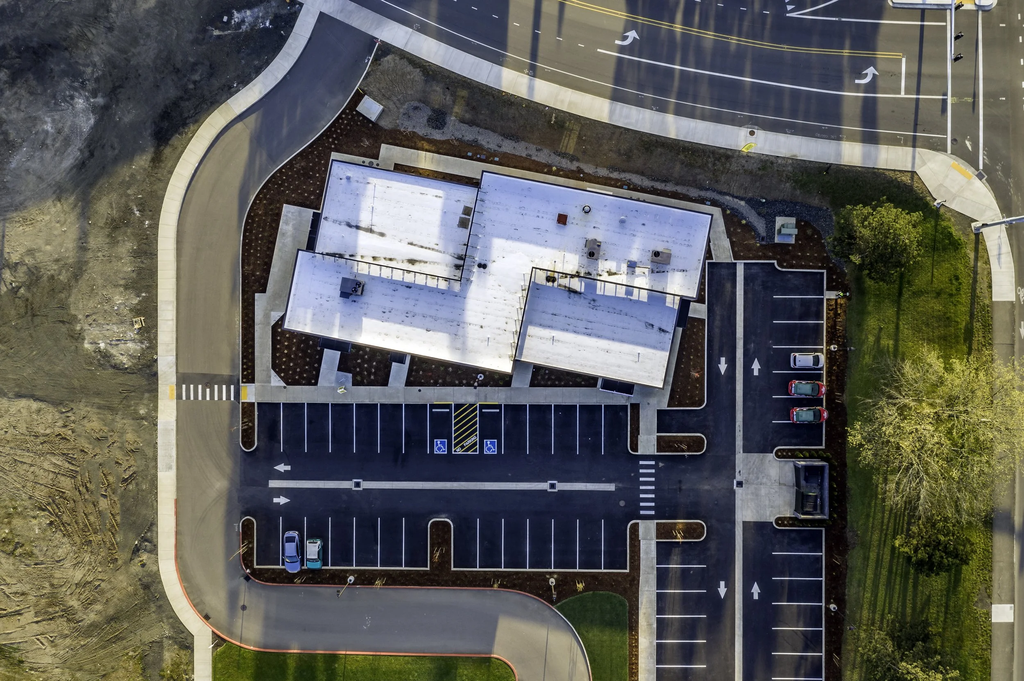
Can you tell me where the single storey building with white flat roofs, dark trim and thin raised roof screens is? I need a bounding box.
[278,159,717,396]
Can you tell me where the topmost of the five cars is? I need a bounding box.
[788,351,822,370]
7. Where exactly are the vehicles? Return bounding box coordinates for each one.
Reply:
[788,406,825,425]
[788,351,822,370]
[306,536,324,568]
[282,529,302,571]
[787,380,824,399]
